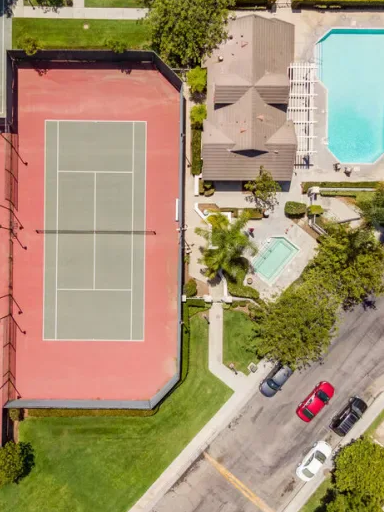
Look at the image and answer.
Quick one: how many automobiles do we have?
4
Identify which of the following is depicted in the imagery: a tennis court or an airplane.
tennis court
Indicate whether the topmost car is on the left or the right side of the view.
right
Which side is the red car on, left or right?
right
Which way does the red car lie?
at an angle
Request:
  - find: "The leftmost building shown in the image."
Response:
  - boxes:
[200,13,297,181]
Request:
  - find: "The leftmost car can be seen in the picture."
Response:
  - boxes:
[258,360,297,397]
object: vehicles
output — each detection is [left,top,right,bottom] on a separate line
[258,360,297,397]
[295,441,331,483]
[296,381,334,423]
[329,396,369,439]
